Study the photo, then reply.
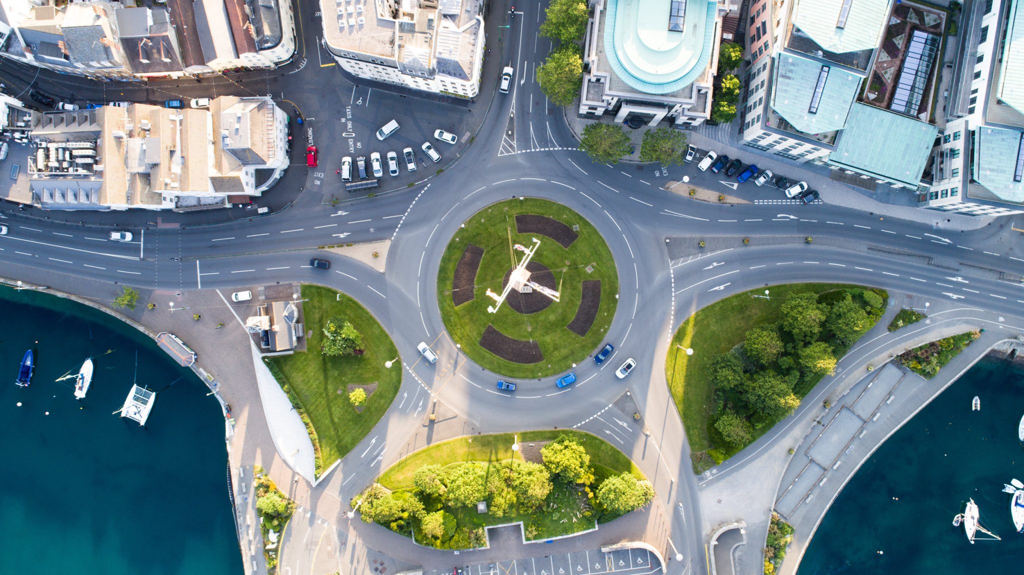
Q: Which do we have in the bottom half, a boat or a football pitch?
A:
boat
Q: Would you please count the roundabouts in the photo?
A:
1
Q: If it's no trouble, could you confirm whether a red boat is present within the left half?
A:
No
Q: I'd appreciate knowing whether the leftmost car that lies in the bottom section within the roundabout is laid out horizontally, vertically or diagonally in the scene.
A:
diagonally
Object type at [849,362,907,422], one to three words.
sports court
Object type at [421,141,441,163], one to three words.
car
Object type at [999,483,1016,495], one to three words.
boat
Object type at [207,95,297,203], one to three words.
building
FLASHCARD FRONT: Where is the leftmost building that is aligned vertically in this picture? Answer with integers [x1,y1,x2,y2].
[0,93,49,205]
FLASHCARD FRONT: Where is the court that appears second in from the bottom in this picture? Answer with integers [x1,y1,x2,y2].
[804,404,867,470]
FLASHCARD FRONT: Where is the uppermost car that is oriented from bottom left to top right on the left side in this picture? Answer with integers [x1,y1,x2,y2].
[376,119,400,140]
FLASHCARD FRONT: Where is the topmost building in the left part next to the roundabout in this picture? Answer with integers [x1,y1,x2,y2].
[319,0,488,100]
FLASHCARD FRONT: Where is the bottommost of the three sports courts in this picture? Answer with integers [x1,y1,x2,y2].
[775,460,828,520]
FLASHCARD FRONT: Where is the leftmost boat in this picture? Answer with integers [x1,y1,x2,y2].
[17,351,32,388]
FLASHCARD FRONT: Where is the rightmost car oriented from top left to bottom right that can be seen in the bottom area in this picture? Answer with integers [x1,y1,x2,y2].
[418,341,438,364]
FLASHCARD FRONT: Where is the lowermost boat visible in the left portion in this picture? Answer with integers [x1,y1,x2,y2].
[106,383,156,430]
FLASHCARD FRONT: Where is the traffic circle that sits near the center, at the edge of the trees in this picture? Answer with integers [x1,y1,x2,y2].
[384,144,673,432]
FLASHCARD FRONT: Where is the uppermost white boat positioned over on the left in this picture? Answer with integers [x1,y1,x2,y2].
[51,360,92,398]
